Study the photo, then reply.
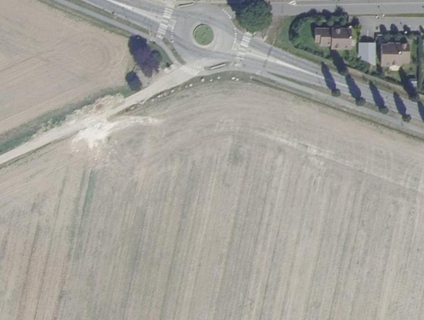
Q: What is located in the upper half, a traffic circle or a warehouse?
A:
traffic circle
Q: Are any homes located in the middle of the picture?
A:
No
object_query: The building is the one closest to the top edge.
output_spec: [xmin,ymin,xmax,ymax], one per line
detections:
[314,26,352,50]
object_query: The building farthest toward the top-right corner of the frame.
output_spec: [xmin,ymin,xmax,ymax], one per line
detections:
[382,42,410,68]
